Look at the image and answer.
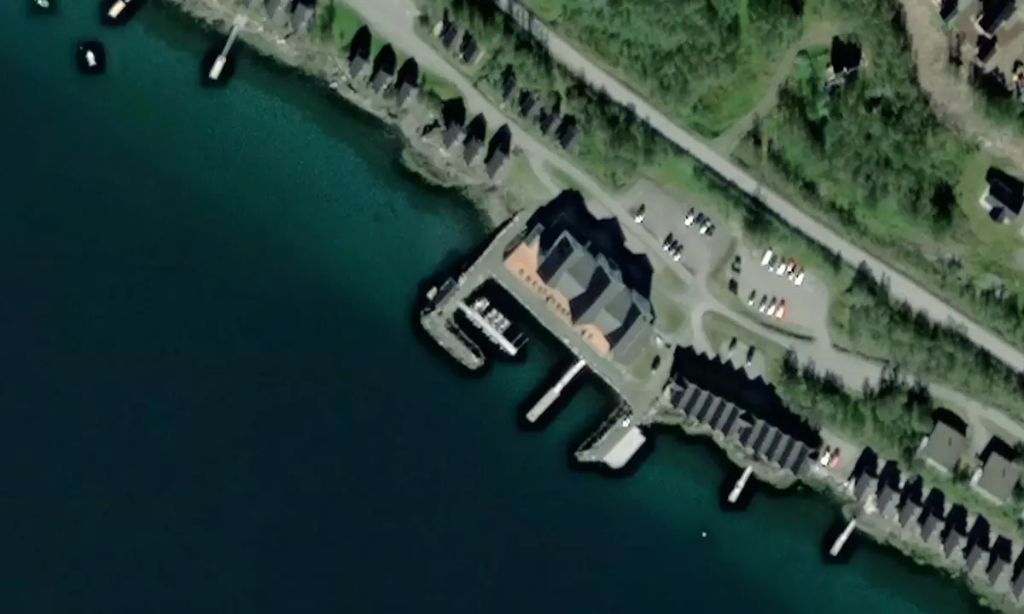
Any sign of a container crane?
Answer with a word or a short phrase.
No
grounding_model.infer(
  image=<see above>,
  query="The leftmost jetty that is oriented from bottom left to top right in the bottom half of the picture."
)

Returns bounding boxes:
[526,359,585,422]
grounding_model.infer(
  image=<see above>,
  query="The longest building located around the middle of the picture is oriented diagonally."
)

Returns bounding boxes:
[530,218,658,366]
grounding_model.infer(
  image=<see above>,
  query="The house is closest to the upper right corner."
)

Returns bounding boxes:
[971,0,1016,36]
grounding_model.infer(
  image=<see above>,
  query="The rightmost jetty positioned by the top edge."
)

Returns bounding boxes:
[210,29,235,81]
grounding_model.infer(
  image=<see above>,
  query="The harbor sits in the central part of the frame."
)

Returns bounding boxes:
[419,217,662,464]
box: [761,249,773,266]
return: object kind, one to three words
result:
vehicle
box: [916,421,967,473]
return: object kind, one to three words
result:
house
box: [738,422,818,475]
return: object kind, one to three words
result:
house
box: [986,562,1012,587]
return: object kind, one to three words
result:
building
